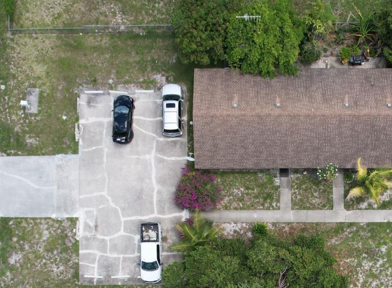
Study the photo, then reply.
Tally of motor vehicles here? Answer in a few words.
3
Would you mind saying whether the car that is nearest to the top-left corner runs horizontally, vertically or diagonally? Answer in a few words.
vertically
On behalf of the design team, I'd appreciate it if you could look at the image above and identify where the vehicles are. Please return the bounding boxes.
[109,95,134,141]
[159,83,184,136]
[136,222,162,284]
